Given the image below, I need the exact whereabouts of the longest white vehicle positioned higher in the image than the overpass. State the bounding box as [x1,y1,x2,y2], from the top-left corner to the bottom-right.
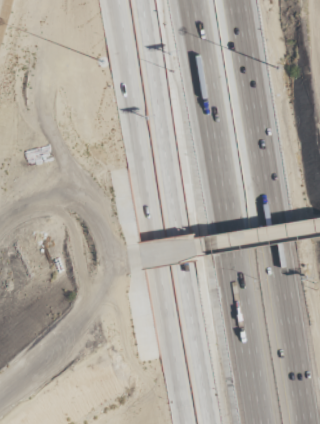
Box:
[195,54,210,113]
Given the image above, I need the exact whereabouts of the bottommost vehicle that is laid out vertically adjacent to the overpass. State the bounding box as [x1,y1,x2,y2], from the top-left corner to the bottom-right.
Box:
[232,282,246,342]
